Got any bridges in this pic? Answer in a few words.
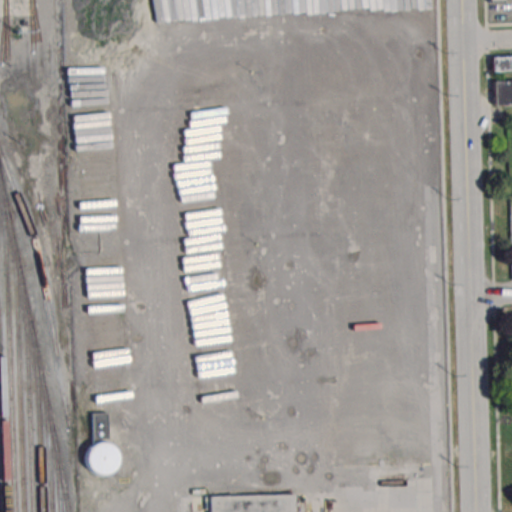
No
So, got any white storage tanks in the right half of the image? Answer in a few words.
No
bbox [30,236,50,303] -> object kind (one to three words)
rail car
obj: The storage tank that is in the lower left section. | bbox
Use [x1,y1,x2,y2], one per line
[84,442,122,477]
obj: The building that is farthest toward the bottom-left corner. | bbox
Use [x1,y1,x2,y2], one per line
[90,413,108,444]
